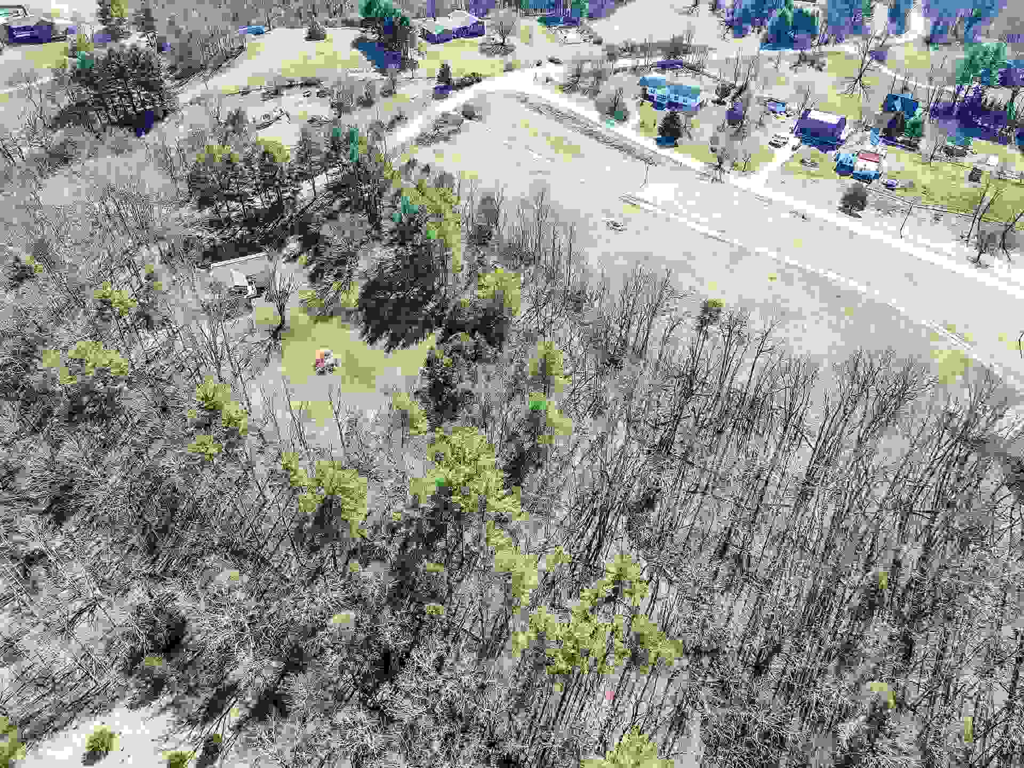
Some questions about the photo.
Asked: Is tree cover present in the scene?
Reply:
Yes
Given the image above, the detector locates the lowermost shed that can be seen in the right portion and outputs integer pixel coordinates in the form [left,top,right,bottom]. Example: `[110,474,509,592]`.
[852,156,884,181]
